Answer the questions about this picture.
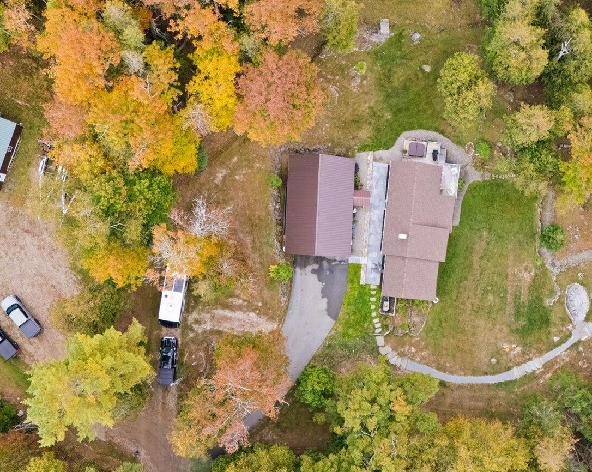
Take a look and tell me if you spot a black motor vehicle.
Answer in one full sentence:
Yes, I can see a black motor vehicle in this picture.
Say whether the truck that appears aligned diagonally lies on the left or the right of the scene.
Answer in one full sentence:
It is on the left.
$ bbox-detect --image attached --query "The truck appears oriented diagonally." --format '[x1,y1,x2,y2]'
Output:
[0,293,39,341]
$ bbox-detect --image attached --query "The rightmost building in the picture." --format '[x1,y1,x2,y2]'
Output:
[382,161,455,301]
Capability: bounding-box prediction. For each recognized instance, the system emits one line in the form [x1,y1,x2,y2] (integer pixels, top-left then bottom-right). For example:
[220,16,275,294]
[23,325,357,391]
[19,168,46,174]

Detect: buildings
[382,161,455,301]
[0,118,24,190]
[285,153,355,257]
